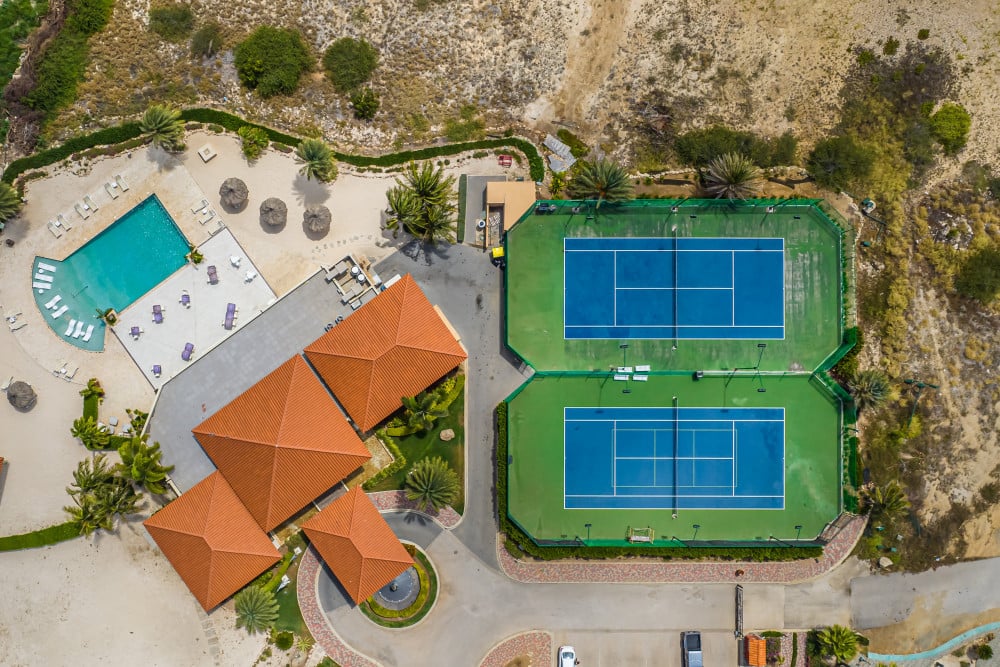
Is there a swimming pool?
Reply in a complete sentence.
Yes, I can see a swimming pool in this picture.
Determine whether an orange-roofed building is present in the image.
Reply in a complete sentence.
Yes, there's an orange-roofed building down there.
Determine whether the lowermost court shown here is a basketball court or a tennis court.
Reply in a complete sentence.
It turns out the lowermost court is a tennis court.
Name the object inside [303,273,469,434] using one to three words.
building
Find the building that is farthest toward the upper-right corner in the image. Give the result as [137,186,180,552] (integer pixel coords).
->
[485,181,536,236]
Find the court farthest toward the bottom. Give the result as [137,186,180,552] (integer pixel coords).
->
[511,373,841,540]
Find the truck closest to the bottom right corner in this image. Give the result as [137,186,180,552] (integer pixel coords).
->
[682,630,704,667]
